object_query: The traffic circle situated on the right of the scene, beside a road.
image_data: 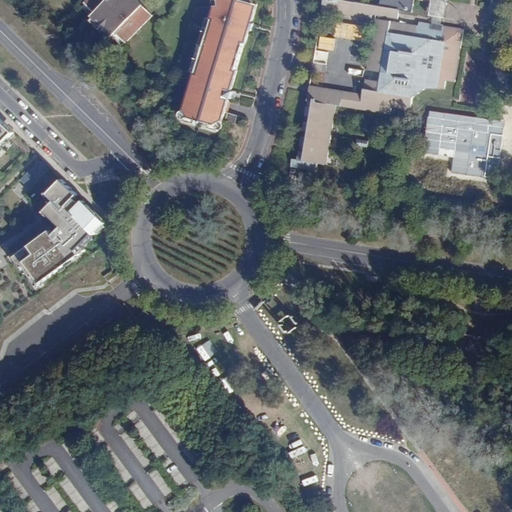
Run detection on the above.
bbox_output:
[322,430,454,512]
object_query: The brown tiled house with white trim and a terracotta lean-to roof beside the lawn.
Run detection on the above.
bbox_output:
[87,0,154,45]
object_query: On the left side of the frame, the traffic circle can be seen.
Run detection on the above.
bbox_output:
[132,171,262,302]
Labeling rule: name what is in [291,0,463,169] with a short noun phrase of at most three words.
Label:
building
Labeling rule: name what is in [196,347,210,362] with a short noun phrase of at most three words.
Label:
vehicle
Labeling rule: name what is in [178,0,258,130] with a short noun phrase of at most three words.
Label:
building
